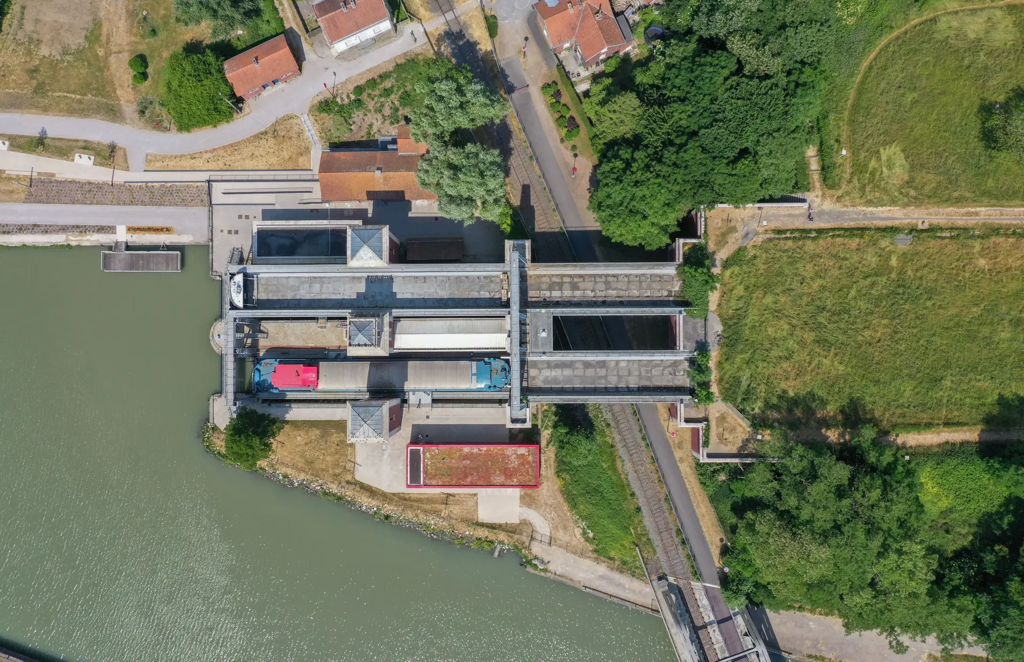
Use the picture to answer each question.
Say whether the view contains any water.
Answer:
Yes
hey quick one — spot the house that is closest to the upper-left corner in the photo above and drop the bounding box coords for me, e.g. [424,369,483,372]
[224,34,304,105]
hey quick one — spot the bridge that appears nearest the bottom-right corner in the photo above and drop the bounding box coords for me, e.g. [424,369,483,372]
[635,545,772,662]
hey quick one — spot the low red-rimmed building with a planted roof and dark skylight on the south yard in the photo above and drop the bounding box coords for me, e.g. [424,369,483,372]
[407,444,540,488]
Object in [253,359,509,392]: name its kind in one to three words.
ship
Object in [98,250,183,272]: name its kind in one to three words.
pier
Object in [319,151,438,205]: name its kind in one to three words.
building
